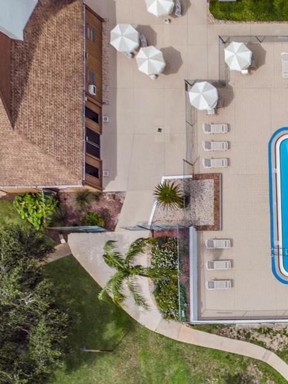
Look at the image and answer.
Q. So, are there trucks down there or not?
No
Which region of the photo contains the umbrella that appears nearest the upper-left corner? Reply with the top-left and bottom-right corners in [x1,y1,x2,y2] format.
[111,24,142,56]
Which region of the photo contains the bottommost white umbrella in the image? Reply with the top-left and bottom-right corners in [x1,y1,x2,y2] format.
[189,82,219,112]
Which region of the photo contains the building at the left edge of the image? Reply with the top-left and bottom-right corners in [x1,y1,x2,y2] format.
[0,0,103,193]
